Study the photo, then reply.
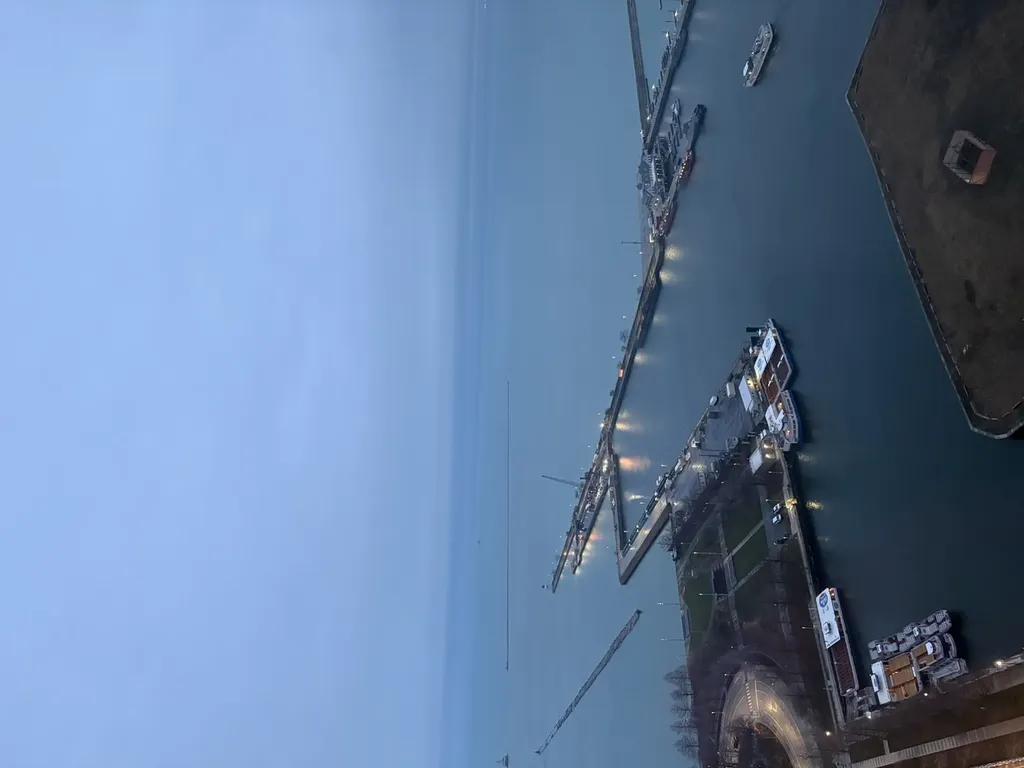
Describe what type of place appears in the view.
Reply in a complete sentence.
This image shows a port.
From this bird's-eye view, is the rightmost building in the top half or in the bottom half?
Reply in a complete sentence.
Seen from above, the rightmost building lies in the top half of the view.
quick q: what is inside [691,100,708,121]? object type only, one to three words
boat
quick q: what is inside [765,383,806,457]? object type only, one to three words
boat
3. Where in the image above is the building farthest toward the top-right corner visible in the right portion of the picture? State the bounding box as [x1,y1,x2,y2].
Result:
[940,136,998,184]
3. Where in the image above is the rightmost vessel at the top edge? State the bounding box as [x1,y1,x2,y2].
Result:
[738,22,773,89]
